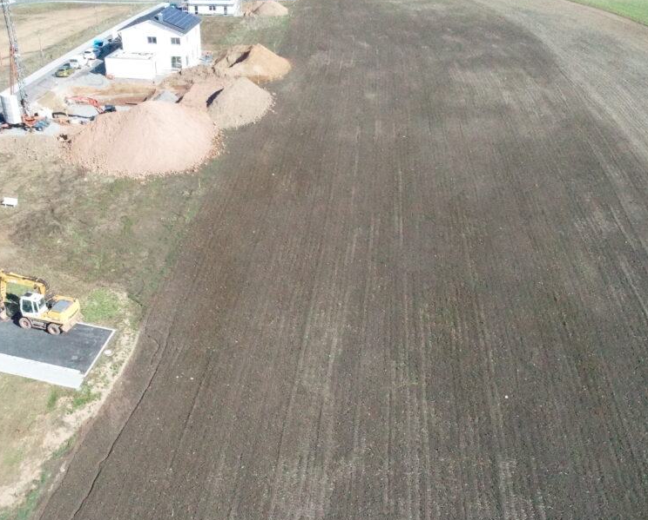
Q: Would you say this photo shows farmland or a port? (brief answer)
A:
farmland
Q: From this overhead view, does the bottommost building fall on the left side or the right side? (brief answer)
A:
left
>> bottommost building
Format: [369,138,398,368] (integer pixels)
[103,47,169,76]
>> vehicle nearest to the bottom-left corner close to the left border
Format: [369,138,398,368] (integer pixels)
[0,269,85,335]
